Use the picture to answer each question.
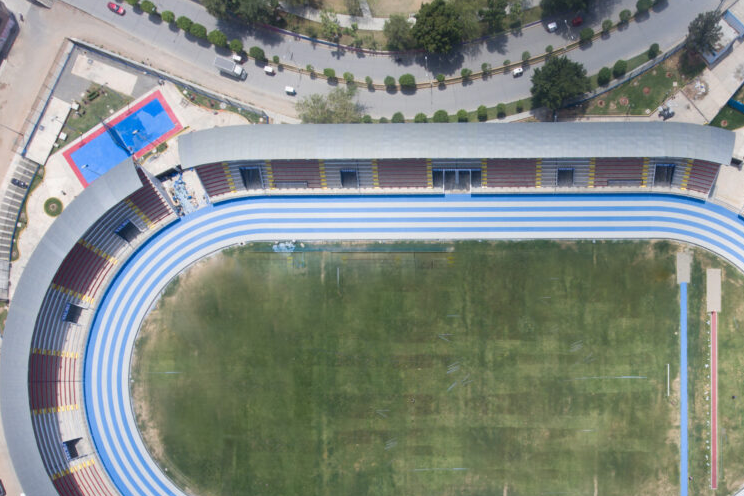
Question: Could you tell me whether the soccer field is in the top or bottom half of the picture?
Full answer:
The soccer field is in the bottom half of the image.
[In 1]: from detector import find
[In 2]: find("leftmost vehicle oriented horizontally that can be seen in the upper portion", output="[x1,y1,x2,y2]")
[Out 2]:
[9,178,32,191]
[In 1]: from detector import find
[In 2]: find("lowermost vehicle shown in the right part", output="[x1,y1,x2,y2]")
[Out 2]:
[510,65,525,79]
